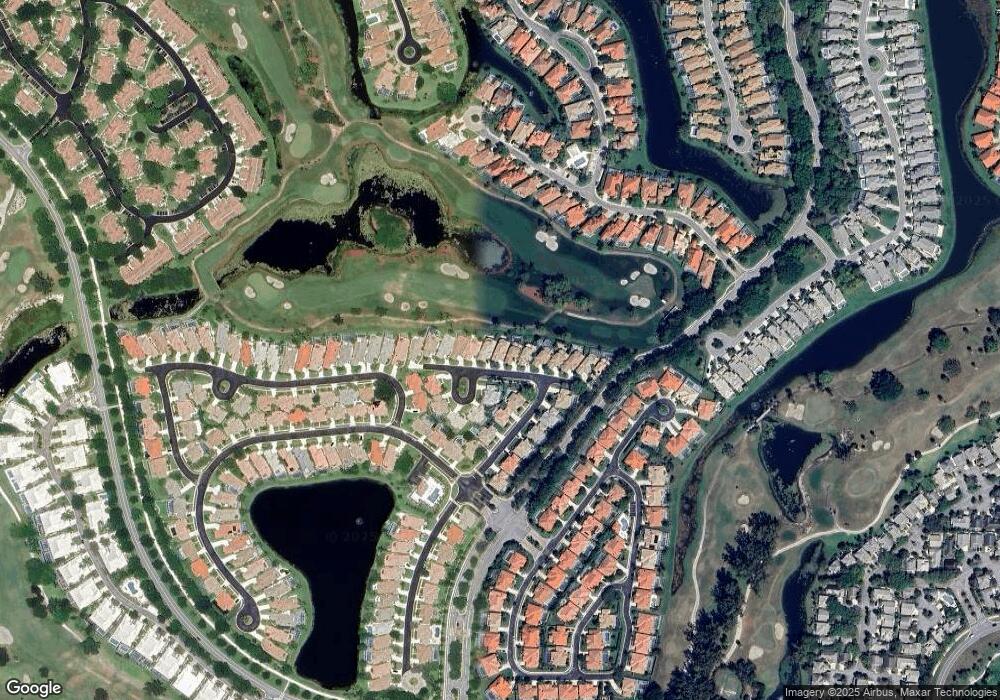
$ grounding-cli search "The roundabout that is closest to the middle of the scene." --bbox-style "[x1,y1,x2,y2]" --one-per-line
[451,372,479,404]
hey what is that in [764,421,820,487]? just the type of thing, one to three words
pond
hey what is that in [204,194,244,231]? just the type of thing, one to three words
building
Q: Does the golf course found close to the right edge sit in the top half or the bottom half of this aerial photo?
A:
bottom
